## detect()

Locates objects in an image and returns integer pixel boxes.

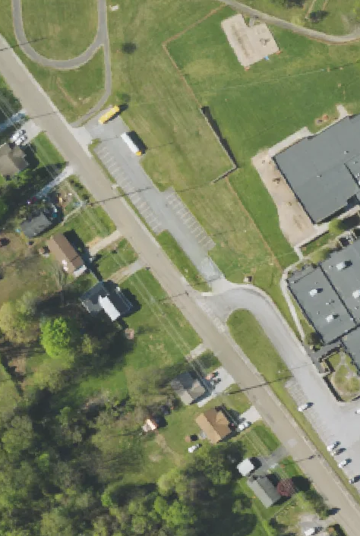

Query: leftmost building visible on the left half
[0,140,29,180]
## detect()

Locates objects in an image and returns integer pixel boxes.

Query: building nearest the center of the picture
[84,280,128,325]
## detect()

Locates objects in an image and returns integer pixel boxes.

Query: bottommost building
[246,472,282,510]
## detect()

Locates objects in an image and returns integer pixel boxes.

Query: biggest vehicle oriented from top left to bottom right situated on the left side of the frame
[122,133,138,155]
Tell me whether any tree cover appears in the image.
Yes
